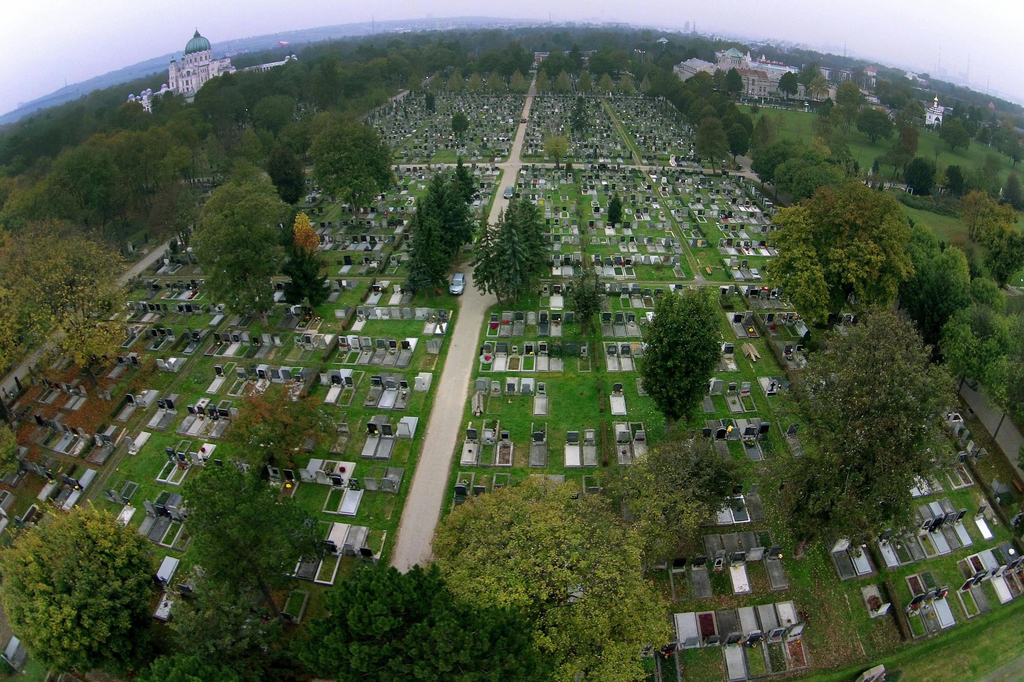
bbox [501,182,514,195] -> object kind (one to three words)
vehicle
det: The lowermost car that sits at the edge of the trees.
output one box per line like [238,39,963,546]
[448,267,467,291]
